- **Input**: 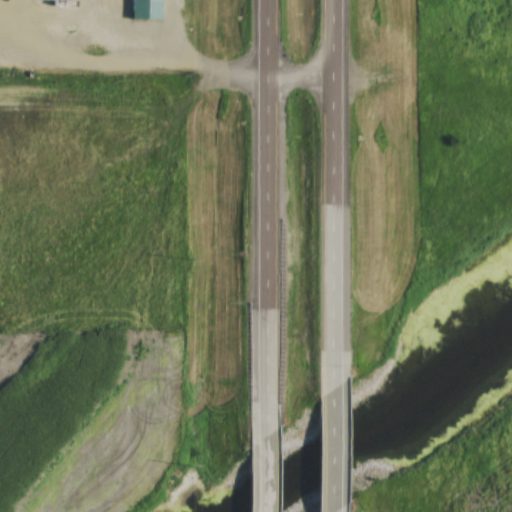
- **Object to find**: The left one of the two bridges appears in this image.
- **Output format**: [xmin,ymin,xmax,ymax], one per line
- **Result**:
[252,420,284,512]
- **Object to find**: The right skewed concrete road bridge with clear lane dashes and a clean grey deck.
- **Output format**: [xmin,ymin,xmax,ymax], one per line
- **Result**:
[322,374,352,512]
